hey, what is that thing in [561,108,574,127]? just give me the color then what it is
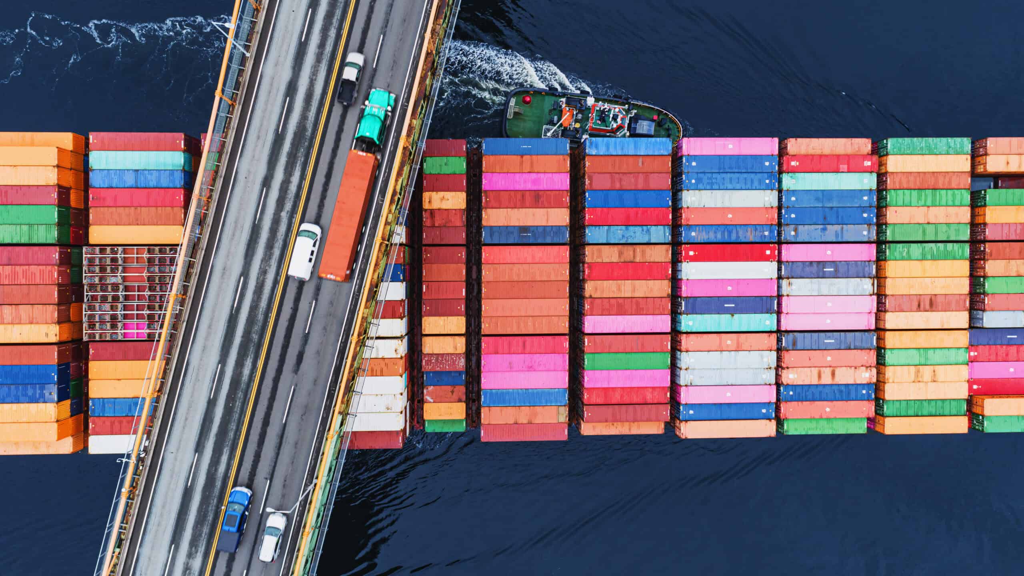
orange boat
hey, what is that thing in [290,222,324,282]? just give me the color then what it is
white van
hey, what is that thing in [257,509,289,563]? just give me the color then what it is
white car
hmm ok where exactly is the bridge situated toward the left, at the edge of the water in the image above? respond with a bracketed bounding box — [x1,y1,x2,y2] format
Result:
[97,0,460,576]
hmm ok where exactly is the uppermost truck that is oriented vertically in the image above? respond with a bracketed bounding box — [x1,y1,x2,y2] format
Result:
[335,51,367,109]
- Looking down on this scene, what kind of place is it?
port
